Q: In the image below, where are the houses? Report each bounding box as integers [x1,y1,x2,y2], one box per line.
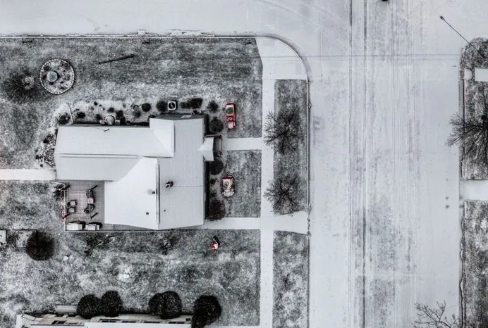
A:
[50,116,221,237]
[15,311,205,328]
